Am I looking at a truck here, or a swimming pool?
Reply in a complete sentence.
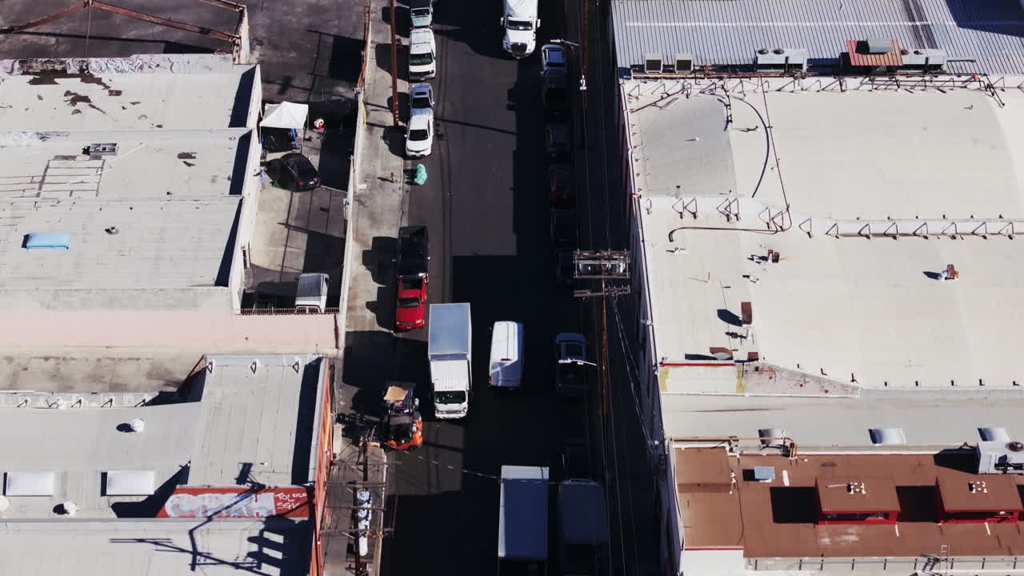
I can see a truck in this picture.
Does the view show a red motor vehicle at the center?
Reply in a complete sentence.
Yes, there is a red motor vehicle at the center.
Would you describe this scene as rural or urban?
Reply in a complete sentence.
The land in this view is best described as urban.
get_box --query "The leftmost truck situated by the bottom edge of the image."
[497,465,551,576]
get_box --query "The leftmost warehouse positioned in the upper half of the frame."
[0,52,270,355]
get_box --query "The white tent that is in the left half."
[263,104,308,154]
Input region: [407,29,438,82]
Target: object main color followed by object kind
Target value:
white van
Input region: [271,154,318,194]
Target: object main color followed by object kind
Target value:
black car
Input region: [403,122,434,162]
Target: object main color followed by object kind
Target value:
white car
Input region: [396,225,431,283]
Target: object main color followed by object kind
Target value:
black truck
